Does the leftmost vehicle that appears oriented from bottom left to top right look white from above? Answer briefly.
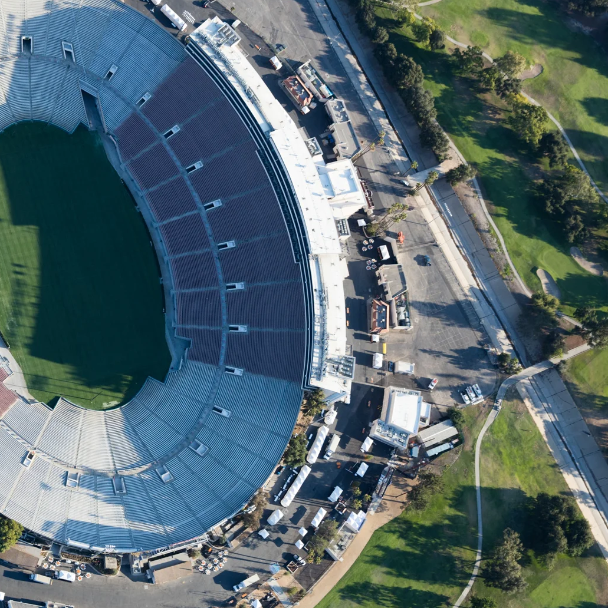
Yes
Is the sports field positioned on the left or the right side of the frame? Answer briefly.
left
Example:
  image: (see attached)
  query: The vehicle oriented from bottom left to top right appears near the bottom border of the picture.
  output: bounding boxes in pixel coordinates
[233,572,261,593]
